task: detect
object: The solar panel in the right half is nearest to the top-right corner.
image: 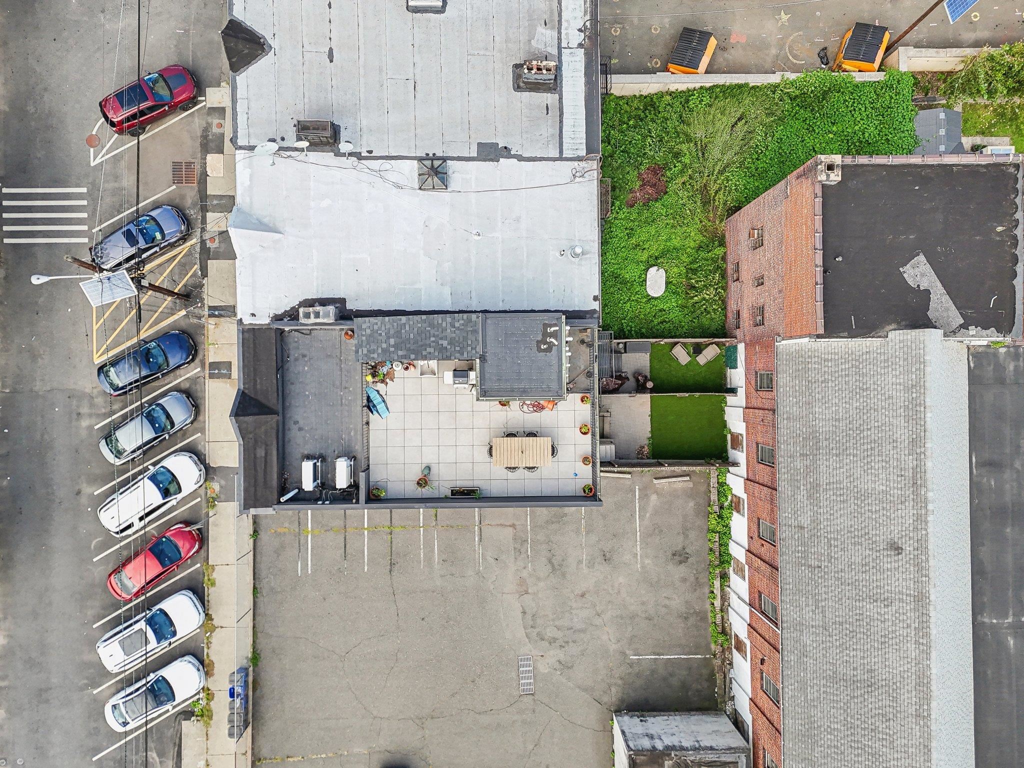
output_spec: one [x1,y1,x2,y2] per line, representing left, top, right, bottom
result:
[940,0,982,23]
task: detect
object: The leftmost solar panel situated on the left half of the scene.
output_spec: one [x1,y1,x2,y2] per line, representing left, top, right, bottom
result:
[81,269,136,308]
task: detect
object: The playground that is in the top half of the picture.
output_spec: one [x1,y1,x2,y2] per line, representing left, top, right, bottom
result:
[600,0,1024,90]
